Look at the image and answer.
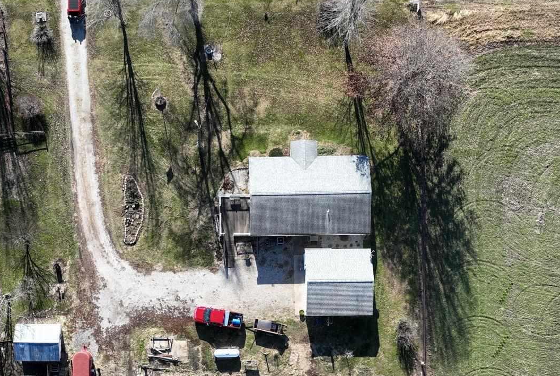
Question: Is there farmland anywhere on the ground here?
Yes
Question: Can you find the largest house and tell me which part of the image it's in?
center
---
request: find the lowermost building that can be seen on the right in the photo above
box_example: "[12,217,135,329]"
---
[302,247,377,317]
